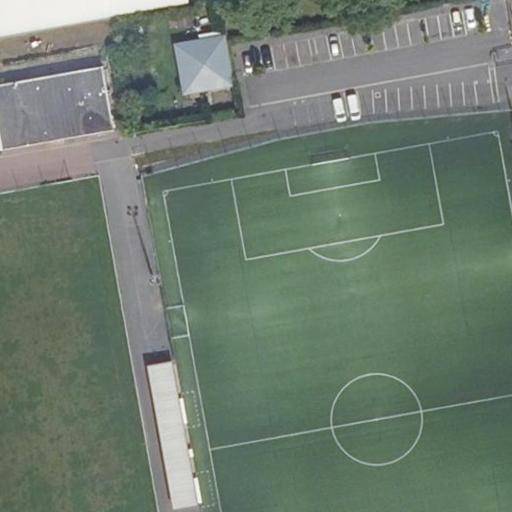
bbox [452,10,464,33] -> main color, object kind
white vehicle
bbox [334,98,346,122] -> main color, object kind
white vehicle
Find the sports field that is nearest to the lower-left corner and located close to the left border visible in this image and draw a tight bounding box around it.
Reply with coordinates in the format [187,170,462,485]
[0,176,161,512]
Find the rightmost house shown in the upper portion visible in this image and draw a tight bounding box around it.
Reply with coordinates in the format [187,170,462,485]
[174,32,233,95]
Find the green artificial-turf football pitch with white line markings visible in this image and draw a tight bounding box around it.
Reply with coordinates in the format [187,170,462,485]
[142,113,512,512]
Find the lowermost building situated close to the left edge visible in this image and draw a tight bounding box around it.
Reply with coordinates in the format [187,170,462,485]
[0,68,113,150]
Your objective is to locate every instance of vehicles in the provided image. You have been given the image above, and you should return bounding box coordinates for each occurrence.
[465,6,476,28]
[262,46,274,68]
[334,98,346,122]
[250,48,261,69]
[242,56,252,76]
[329,35,340,58]
[452,10,464,33]
[348,96,360,121]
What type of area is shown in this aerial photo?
sports ground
